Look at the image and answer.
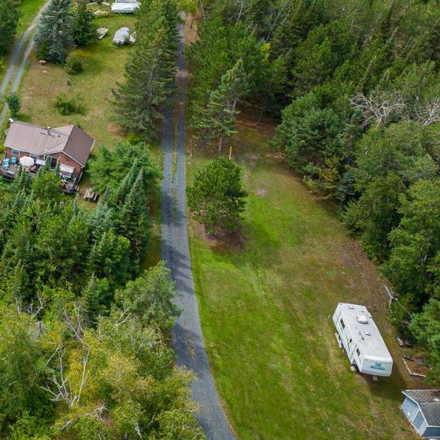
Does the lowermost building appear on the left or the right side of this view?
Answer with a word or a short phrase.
right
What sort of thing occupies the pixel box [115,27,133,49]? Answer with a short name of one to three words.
boat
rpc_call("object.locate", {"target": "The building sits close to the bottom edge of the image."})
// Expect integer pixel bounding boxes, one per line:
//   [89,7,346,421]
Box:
[398,386,440,440]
